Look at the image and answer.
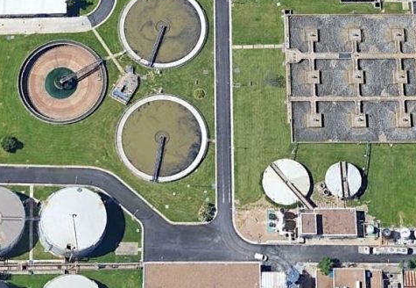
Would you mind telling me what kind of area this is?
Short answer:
industrial area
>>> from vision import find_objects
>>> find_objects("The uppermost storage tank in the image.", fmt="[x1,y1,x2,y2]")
[116,0,209,70]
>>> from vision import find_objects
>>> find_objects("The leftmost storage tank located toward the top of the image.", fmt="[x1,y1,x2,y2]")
[17,40,107,124]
